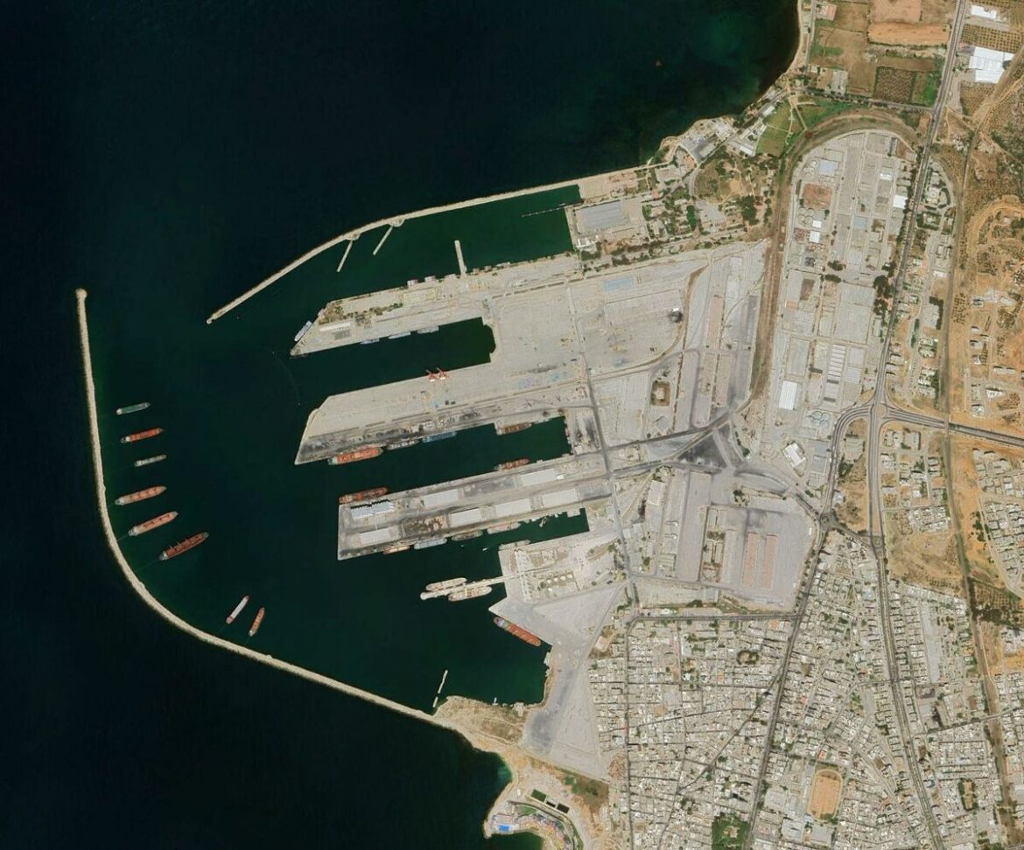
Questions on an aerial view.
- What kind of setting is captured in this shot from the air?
port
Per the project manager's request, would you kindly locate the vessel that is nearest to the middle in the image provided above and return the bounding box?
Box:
[496,422,532,435]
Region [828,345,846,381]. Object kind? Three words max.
building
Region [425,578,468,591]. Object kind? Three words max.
ship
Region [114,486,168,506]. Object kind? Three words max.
ship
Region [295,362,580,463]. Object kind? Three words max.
pier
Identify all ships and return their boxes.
[327,447,384,466]
[496,422,532,435]
[116,402,151,414]
[225,596,248,624]
[114,486,168,506]
[487,522,522,534]
[158,533,210,562]
[127,512,180,537]
[134,455,166,466]
[383,545,410,555]
[360,339,380,345]
[388,332,410,339]
[417,324,440,332]
[338,487,388,504]
[452,530,483,541]
[120,428,164,443]
[499,540,530,550]
[422,430,457,443]
[386,439,421,450]
[248,607,265,637]
[492,616,542,646]
[495,458,529,471]
[425,578,468,591]
[414,538,447,550]
[448,586,493,601]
